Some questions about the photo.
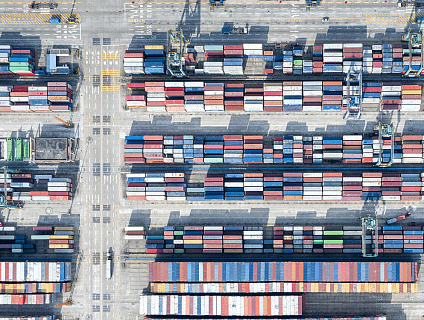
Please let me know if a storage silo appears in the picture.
No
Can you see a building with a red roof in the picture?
No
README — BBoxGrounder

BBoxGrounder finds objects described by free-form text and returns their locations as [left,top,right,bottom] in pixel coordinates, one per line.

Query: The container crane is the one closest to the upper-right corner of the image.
[400,27,424,78]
